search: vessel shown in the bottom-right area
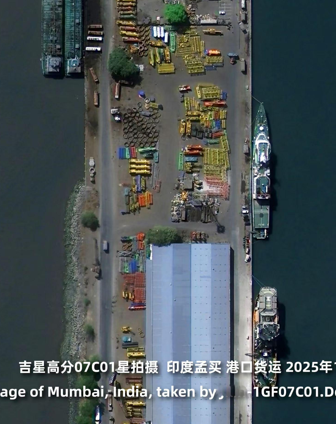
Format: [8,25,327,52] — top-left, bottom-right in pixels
[253,287,280,386]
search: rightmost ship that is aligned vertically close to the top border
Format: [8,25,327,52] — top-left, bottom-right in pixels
[65,0,81,76]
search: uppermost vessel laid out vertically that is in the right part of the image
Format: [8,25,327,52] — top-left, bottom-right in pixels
[252,102,270,238]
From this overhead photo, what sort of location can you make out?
port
